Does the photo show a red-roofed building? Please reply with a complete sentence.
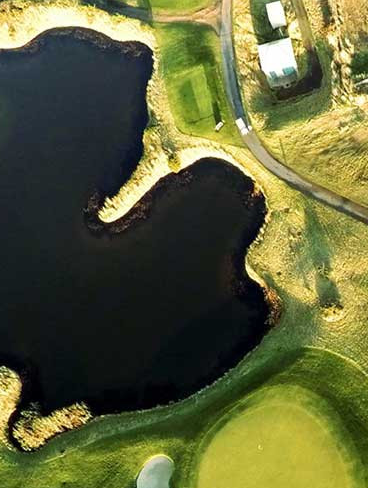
No, no red-roofed building is visible in the view.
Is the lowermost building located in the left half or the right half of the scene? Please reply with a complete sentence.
It is on the right.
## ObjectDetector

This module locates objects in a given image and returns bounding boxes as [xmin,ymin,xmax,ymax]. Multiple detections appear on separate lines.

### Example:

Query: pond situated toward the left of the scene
[0,26,273,452]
